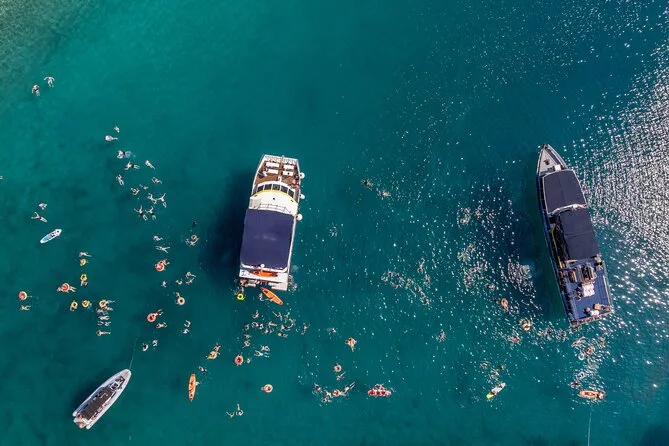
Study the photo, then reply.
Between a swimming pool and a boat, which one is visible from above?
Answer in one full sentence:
The one in the frame is a boat.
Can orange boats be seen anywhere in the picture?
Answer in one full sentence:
Yes, there's an orange boat here.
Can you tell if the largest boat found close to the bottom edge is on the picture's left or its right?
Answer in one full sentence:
The largest boat found close to the bottom edge sits on the left side.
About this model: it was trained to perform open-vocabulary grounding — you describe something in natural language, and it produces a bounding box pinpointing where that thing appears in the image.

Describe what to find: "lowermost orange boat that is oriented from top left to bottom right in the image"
[261,288,283,305]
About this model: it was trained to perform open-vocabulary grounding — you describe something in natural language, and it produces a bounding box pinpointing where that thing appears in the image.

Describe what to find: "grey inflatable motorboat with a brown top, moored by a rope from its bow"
[69,370,131,432]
